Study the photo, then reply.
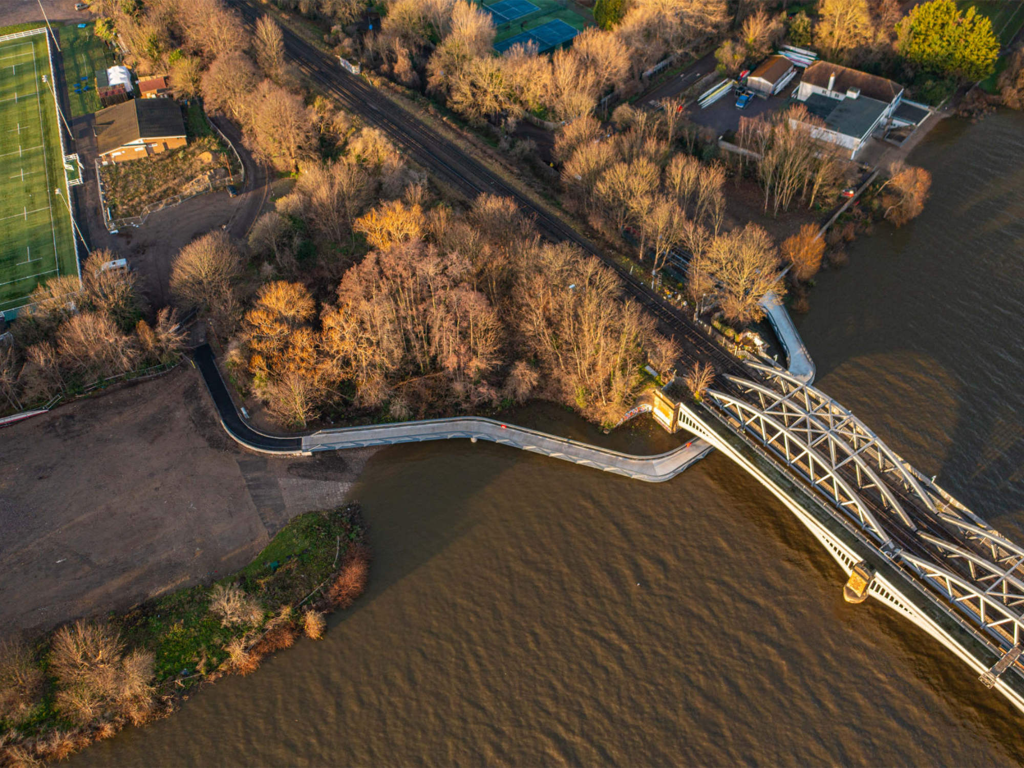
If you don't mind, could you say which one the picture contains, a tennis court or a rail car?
tennis court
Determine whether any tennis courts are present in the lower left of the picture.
No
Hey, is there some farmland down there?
No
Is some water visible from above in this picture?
Yes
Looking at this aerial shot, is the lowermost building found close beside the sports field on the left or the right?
left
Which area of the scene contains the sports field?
top left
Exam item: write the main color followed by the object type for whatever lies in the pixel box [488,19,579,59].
blue tennis court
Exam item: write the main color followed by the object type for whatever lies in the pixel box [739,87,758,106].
blue vehicle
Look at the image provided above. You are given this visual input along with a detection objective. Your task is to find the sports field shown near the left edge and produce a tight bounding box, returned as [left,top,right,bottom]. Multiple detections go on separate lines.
[0,37,85,325]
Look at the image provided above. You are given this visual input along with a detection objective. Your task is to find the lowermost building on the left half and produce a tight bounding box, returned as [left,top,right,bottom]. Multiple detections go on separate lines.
[91,98,187,168]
